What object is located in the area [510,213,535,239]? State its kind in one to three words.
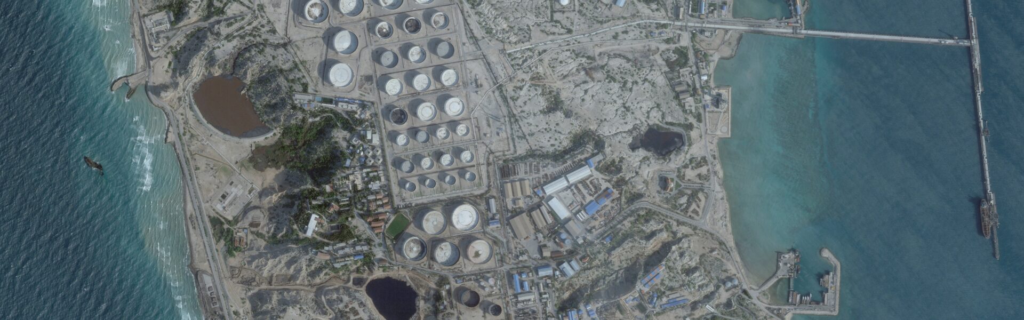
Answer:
building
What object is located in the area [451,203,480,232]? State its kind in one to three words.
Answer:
storage tank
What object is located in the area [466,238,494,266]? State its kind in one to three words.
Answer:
storage tank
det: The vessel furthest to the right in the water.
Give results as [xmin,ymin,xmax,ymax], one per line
[980,199,992,238]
